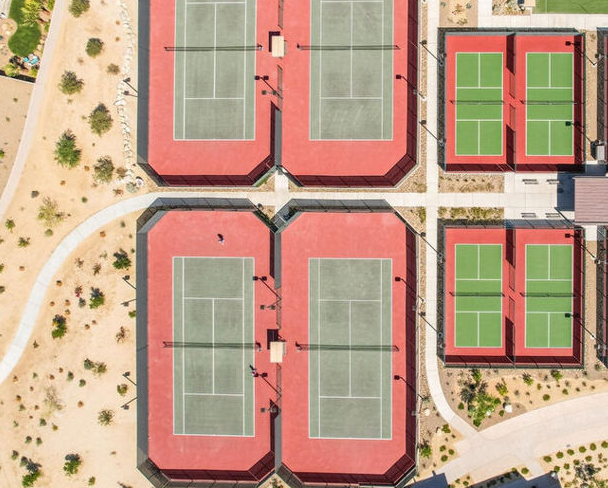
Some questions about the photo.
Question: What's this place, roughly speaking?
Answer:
sports ground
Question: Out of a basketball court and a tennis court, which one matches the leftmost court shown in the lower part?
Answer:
tennis court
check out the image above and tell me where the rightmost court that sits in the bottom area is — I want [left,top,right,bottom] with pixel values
[514,231,582,364]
